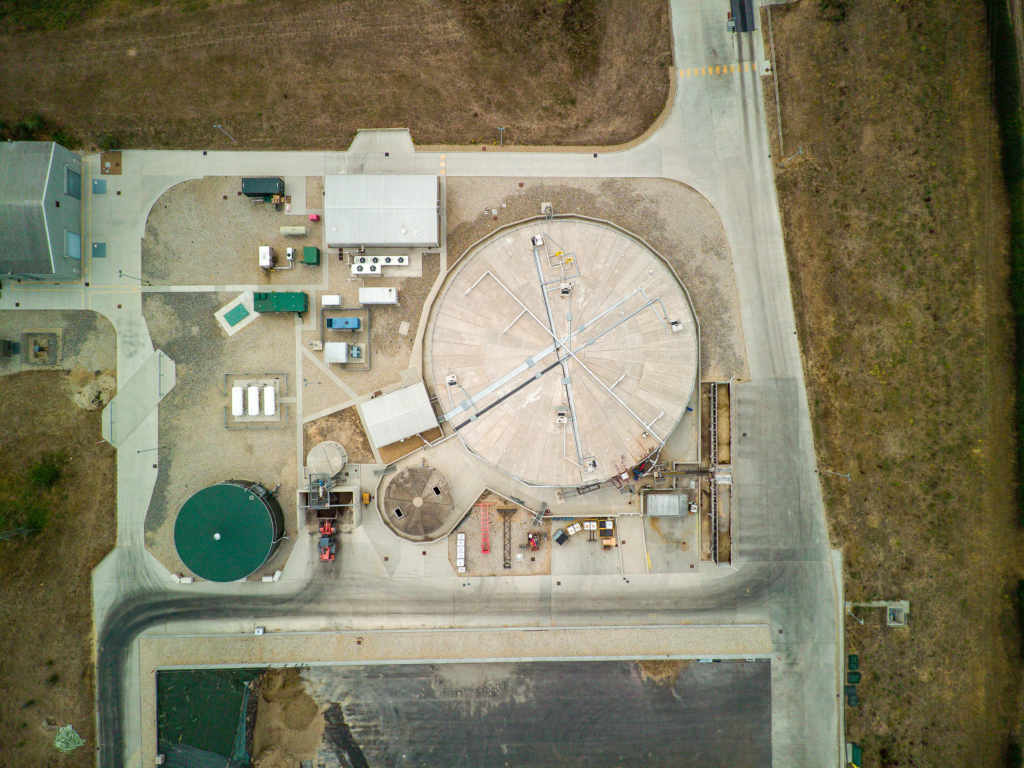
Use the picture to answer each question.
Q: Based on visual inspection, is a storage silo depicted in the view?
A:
Yes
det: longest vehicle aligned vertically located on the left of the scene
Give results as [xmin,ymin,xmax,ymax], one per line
[314,507,337,563]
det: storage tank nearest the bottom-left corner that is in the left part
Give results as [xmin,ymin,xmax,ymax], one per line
[172,477,296,584]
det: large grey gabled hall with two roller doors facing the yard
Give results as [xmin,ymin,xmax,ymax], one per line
[0,140,83,279]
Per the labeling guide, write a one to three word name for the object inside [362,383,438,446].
shed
